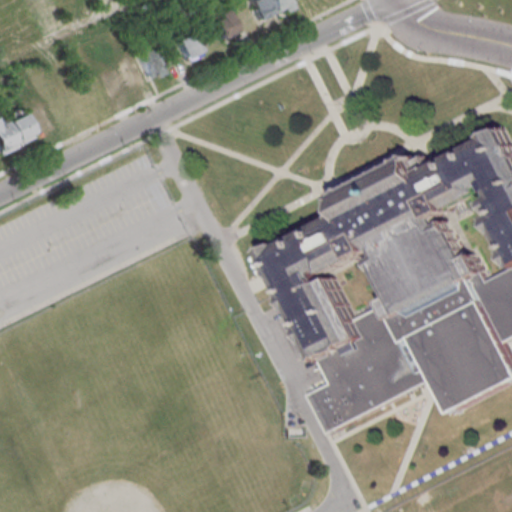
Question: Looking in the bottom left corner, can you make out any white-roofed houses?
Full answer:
No, in the bottom left corner there is no white-roofed house.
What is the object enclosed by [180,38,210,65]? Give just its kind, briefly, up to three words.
house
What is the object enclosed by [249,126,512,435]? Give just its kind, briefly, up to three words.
building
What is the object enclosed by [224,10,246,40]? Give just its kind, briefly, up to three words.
house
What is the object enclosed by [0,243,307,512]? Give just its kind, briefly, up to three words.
baseball field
